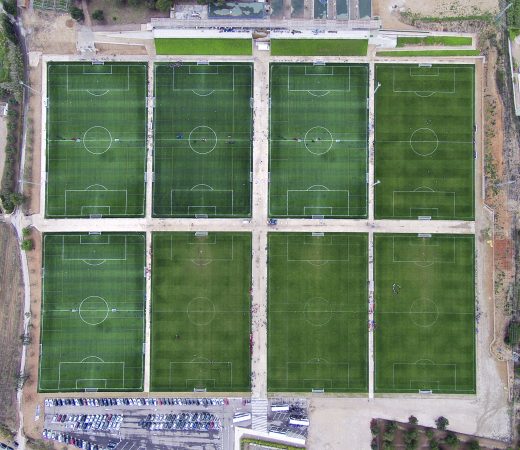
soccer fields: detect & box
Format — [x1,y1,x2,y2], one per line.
[152,61,254,218]
[45,61,148,218]
[150,232,252,392]
[267,232,369,393]
[373,233,476,394]
[37,232,146,393]
[375,63,475,219]
[268,62,370,218]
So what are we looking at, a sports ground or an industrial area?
sports ground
